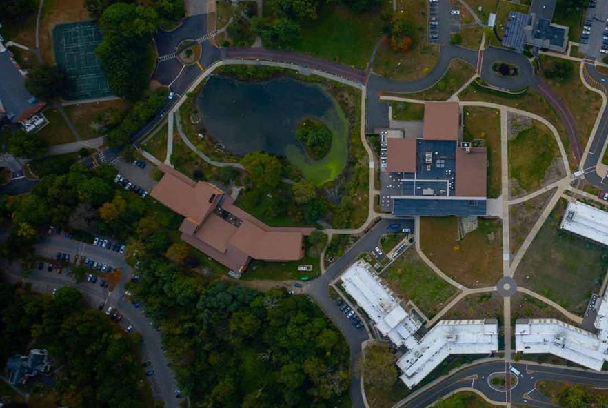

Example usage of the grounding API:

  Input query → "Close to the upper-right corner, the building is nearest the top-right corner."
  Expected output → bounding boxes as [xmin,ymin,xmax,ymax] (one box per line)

[502,0,569,53]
